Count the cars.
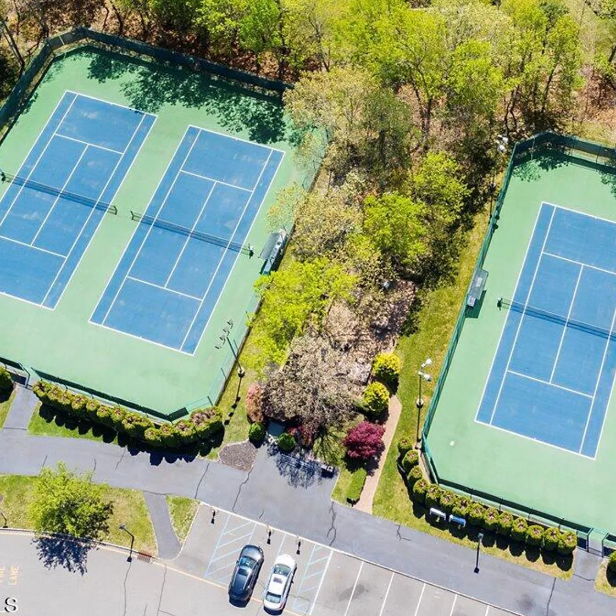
2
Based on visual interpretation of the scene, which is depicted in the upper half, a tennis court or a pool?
tennis court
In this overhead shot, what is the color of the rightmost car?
white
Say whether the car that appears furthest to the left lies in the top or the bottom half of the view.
bottom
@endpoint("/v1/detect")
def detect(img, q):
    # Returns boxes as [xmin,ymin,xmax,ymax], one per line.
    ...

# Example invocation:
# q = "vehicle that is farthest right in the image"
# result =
[263,555,295,614]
